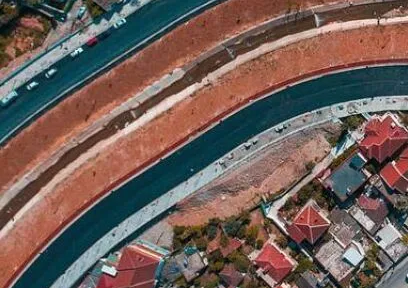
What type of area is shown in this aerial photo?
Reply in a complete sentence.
The picture captures a residential area.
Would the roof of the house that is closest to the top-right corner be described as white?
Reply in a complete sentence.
No, the roof of the house that is closest to the top-right corner is red.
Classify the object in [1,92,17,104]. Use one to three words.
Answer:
vehicle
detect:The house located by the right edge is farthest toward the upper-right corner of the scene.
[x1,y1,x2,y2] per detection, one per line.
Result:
[361,119,408,164]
